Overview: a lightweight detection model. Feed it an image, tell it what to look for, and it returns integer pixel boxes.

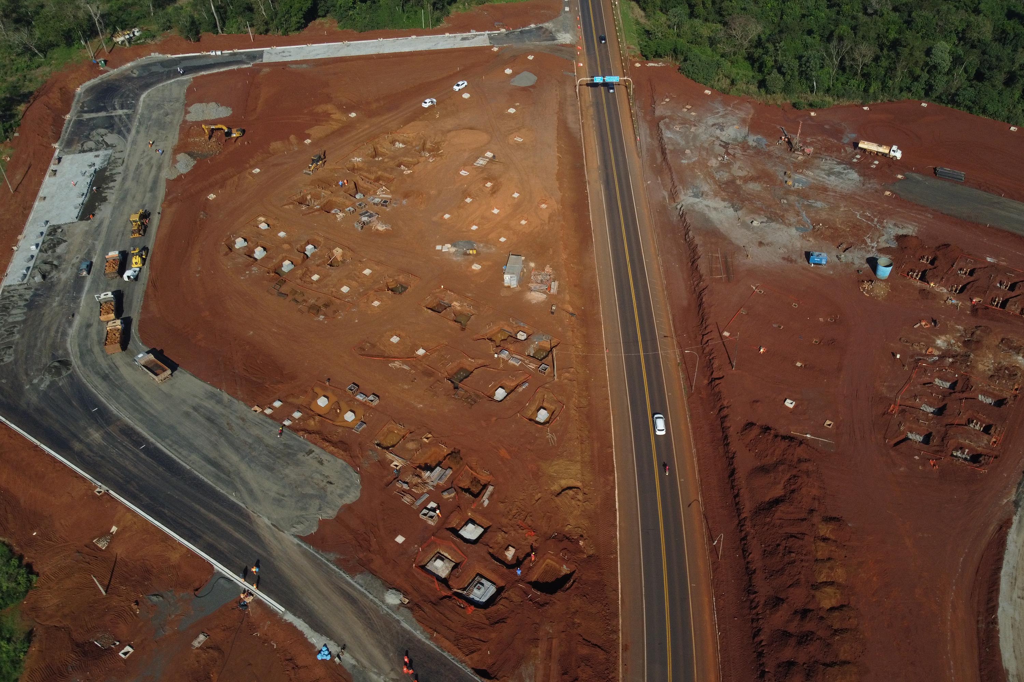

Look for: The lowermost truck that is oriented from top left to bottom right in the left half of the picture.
[138,354,173,387]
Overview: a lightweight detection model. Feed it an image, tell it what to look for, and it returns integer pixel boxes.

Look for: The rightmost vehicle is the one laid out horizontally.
[855,135,901,158]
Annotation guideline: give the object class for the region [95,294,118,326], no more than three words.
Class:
truck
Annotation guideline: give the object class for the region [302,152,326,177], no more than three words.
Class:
work vehicle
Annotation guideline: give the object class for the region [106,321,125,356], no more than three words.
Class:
vehicle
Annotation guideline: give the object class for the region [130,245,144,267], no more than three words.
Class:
work vehicle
